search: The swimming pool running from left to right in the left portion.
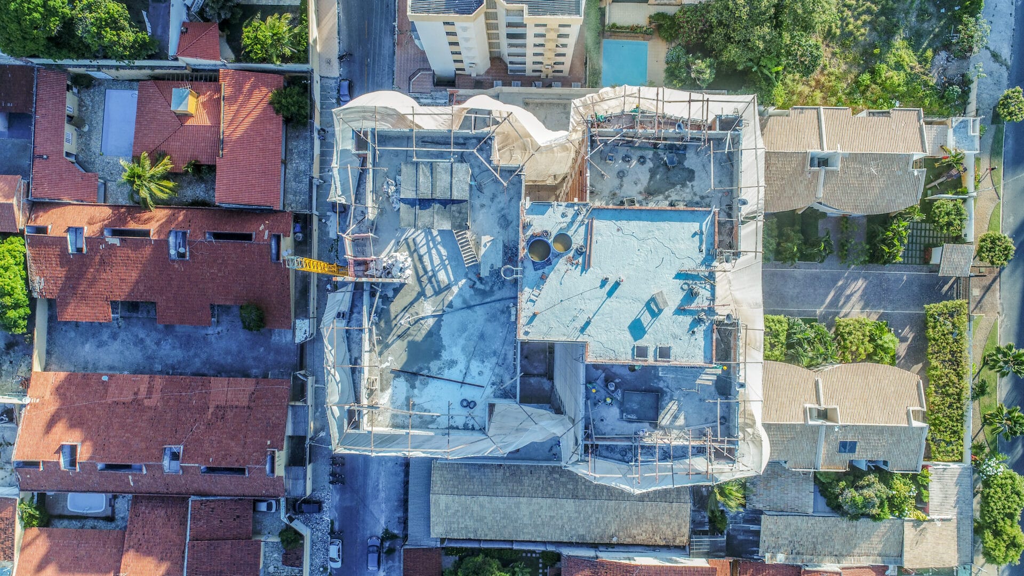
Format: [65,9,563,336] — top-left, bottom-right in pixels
[65,493,109,514]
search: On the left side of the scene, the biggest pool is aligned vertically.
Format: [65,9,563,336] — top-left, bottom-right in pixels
[100,88,138,158]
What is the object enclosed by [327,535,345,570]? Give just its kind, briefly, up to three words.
car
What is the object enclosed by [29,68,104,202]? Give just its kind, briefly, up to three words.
house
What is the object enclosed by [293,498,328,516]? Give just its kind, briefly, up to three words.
car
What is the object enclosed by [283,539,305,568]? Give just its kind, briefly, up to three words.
shed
